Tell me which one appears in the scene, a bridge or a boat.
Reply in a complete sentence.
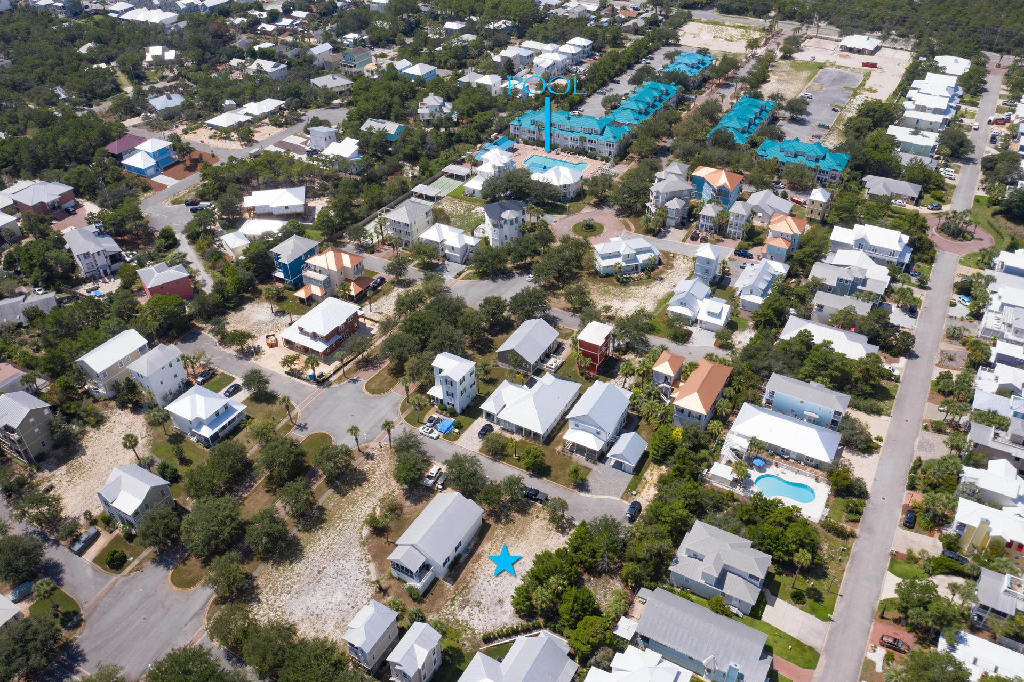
Of the two, only a boat appears.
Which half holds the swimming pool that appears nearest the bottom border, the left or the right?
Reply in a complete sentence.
The swimming pool that appears nearest the bottom border appears in the right half of the scene.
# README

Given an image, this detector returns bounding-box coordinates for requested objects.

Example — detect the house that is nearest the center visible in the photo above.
[495,320,566,375]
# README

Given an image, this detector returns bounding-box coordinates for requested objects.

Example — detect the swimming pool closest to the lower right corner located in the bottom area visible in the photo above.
[754,473,818,504]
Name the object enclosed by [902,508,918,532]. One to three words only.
car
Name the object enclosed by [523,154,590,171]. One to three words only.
swimming pool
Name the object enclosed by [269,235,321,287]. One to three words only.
house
